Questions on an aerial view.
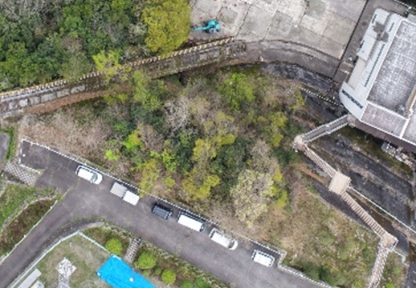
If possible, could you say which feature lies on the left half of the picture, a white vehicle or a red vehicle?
white vehicle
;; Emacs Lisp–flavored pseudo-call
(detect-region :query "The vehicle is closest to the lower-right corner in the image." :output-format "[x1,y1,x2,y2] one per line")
[252,250,278,270]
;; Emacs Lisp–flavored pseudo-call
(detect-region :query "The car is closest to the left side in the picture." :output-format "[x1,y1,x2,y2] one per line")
[74,165,104,187]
